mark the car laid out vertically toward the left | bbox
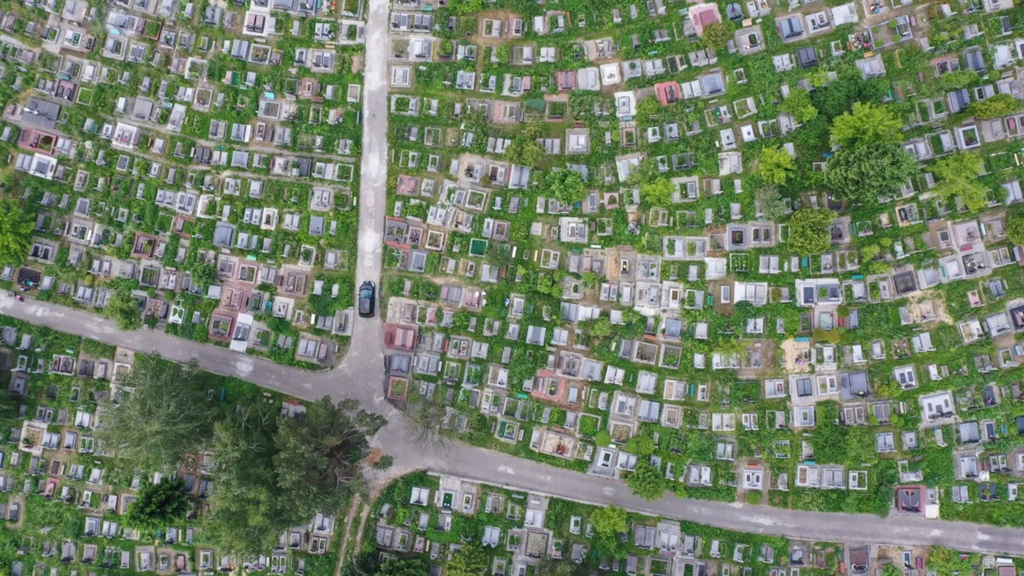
[357,281,376,319]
